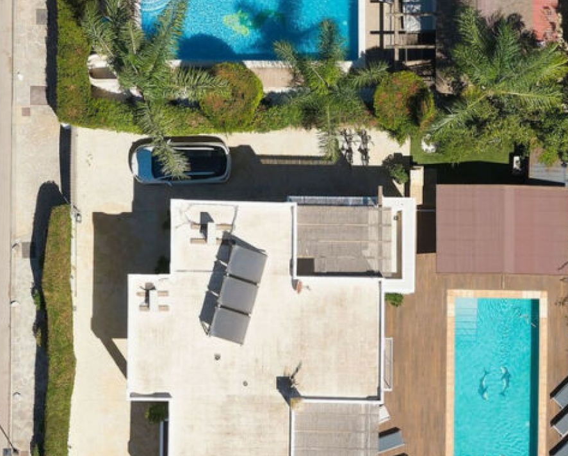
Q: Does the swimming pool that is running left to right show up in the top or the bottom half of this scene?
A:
top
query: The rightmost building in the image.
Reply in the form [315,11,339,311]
[434,184,568,277]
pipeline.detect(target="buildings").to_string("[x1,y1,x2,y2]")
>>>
[127,197,415,456]
[434,184,568,277]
